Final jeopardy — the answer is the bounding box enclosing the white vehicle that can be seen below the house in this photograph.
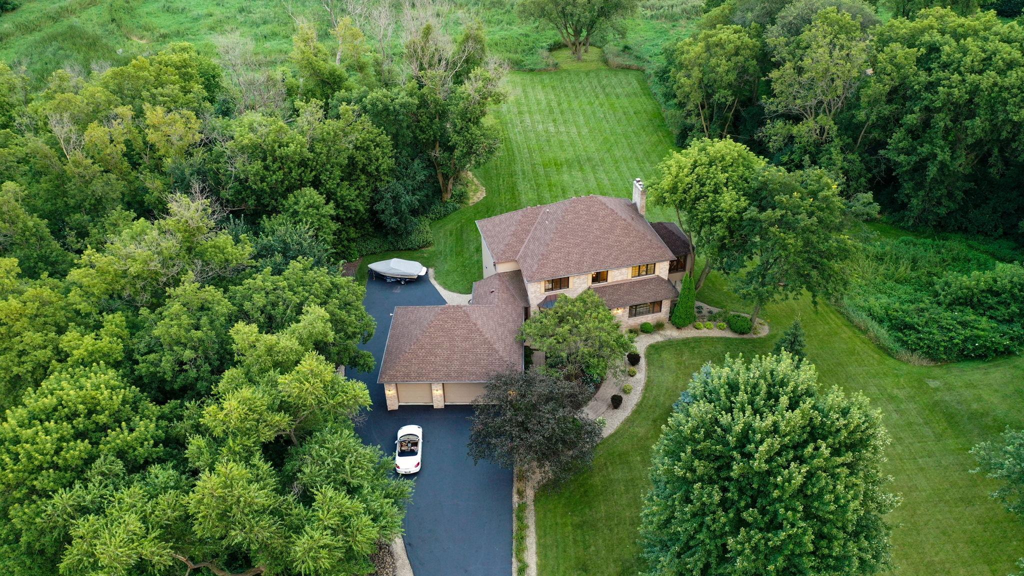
[394,426,426,476]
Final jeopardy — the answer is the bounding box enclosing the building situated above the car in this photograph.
[377,182,699,408]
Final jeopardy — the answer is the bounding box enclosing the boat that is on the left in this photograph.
[359,256,427,284]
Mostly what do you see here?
trees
